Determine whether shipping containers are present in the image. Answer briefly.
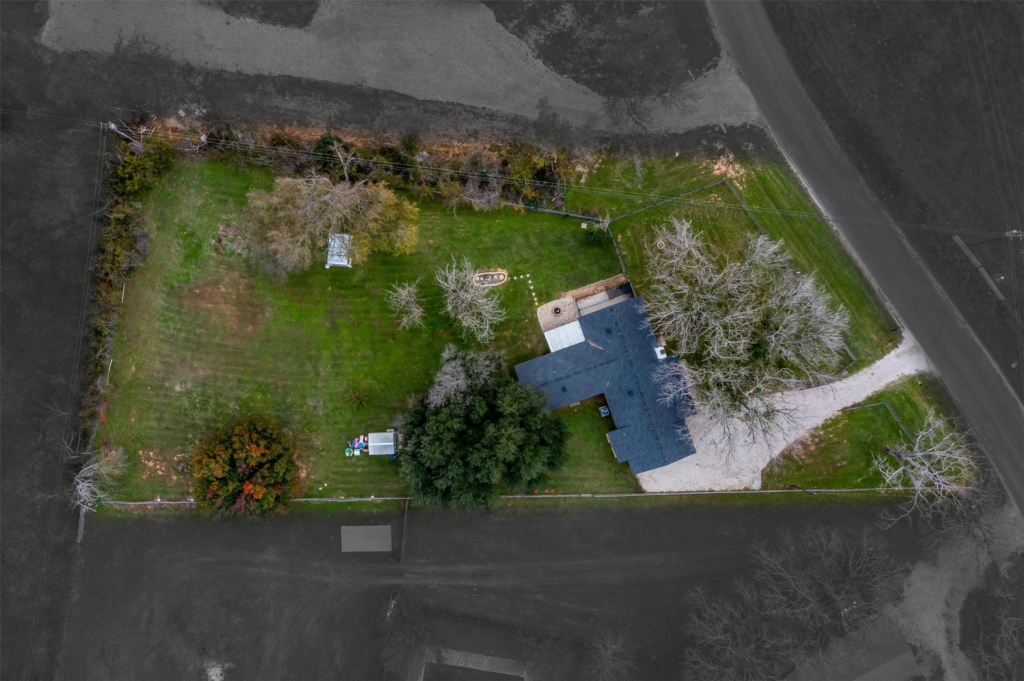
No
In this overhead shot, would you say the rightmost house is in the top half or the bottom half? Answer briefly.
bottom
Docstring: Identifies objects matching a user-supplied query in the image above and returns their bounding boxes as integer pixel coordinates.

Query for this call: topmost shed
[328,235,358,274]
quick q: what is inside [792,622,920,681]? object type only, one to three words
house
